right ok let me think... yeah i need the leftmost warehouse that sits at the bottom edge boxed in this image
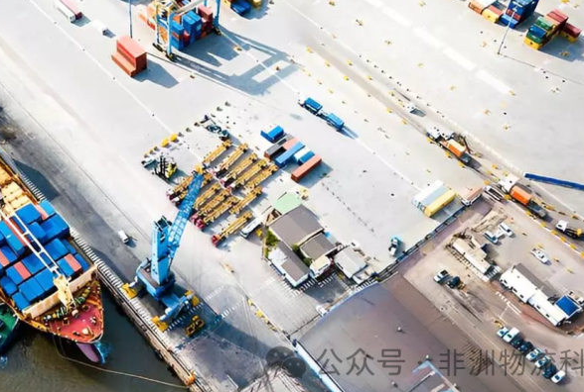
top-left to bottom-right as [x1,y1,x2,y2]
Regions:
[295,272,530,392]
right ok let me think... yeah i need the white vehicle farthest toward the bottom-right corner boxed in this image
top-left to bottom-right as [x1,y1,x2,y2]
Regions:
[547,366,566,381]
